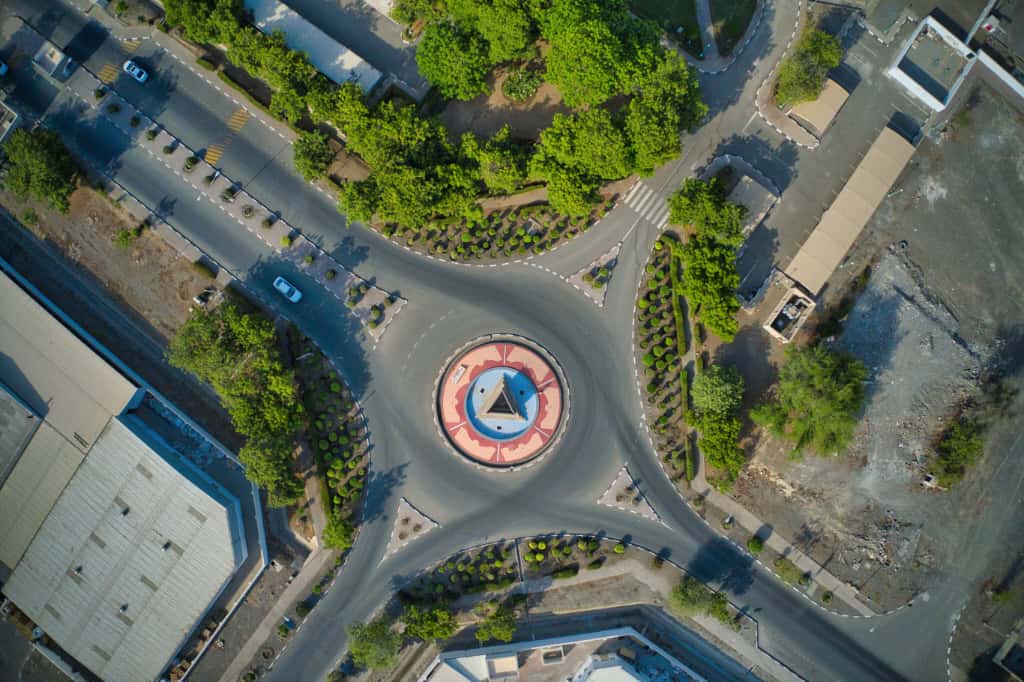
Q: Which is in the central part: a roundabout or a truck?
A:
roundabout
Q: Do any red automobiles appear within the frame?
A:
No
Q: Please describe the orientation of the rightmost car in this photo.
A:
at an angle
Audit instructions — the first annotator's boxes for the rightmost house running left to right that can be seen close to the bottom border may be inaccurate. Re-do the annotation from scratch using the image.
[570,646,651,682]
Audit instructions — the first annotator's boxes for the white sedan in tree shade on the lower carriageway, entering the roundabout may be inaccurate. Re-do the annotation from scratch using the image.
[273,276,303,303]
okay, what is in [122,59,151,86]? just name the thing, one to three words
car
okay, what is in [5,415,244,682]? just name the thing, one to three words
warehouse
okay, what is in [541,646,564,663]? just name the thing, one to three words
building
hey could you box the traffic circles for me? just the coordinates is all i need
[370,270,633,534]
